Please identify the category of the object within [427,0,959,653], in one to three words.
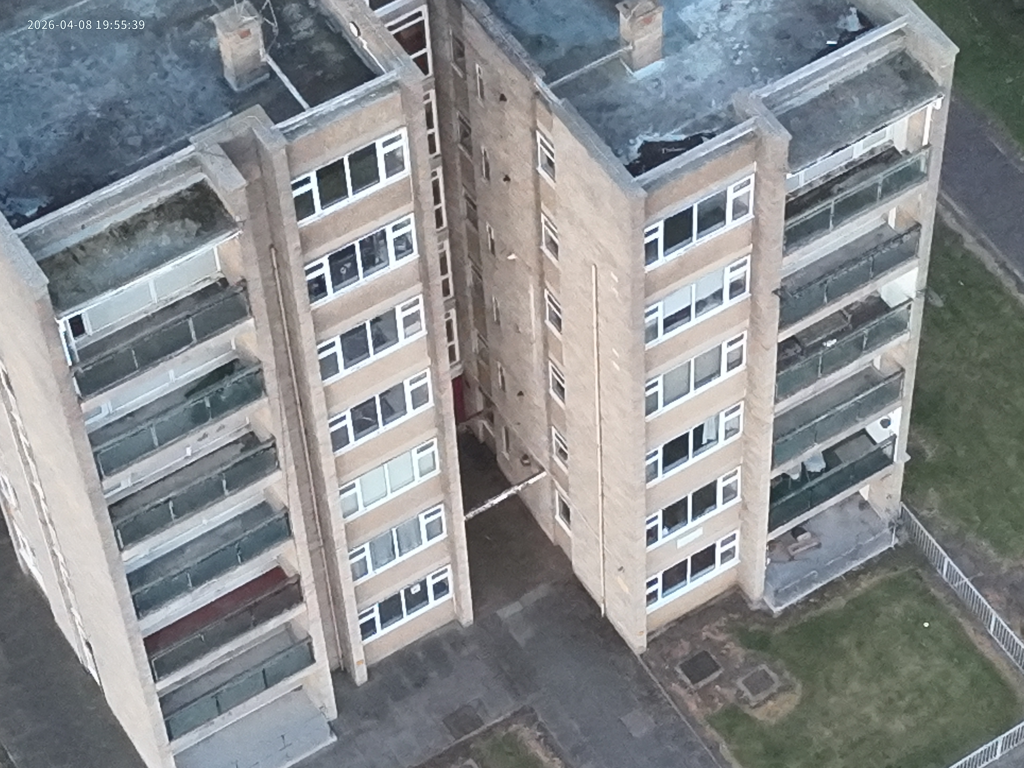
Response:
building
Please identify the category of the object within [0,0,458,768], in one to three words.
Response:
building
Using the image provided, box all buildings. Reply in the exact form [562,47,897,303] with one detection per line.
[0,0,458,768]
[427,0,959,653]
